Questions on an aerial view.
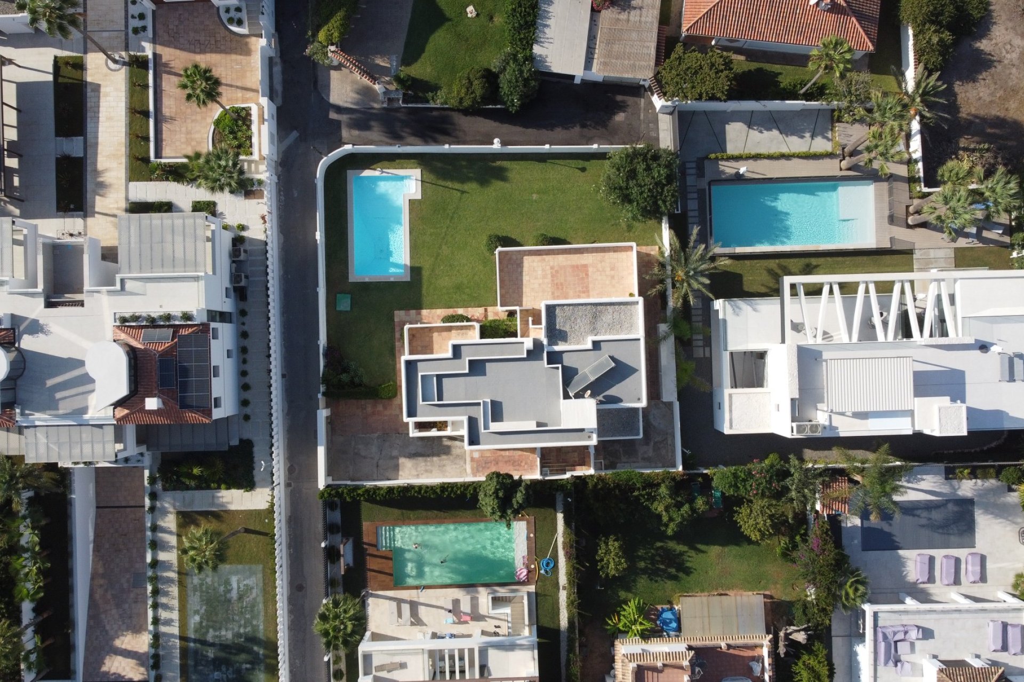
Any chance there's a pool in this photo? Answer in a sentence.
Yes, you can see a pool in this photo.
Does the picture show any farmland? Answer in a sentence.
No, the picture contains no farmland.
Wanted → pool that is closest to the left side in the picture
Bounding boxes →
[347,169,422,281]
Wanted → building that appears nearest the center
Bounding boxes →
[402,243,647,450]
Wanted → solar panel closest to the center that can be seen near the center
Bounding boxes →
[566,355,615,399]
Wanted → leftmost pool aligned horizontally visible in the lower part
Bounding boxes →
[375,520,530,588]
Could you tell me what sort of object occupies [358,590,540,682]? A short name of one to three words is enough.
building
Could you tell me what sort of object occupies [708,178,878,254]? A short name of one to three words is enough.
swimming pool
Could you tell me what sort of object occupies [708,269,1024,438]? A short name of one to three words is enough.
house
